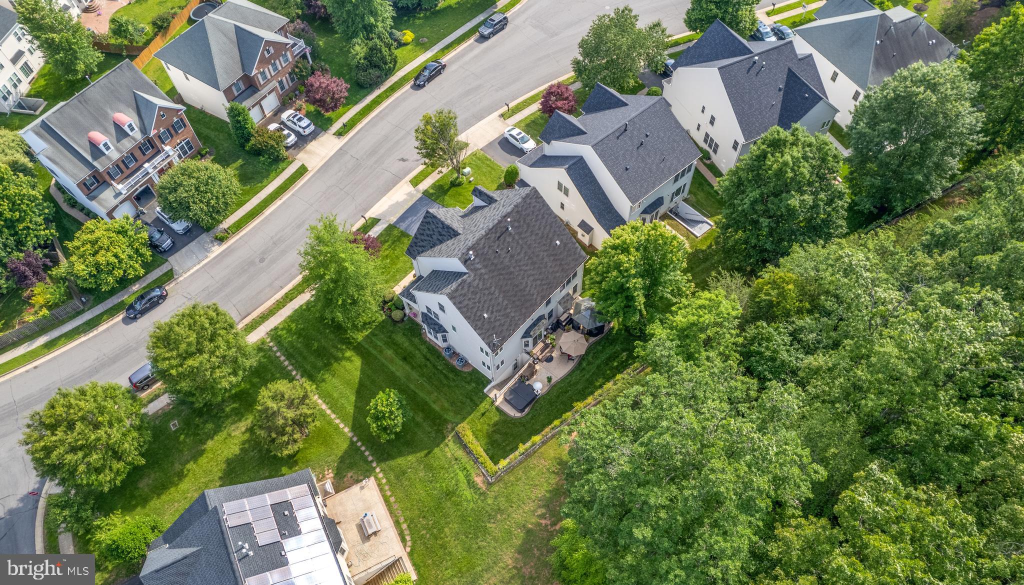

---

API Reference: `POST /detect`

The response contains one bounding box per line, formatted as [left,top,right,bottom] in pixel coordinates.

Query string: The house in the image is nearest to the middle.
[398,183,588,399]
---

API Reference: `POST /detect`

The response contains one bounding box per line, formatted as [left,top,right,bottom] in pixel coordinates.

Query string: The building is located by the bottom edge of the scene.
[140,467,403,585]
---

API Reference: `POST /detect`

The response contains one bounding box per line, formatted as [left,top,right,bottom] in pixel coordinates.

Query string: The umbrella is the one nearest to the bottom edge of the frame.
[558,333,589,360]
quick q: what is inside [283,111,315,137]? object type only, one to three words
car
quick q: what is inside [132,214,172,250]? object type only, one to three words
truck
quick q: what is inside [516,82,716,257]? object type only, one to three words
house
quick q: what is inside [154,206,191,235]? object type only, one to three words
car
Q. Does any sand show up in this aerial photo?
No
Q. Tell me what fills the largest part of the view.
trees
